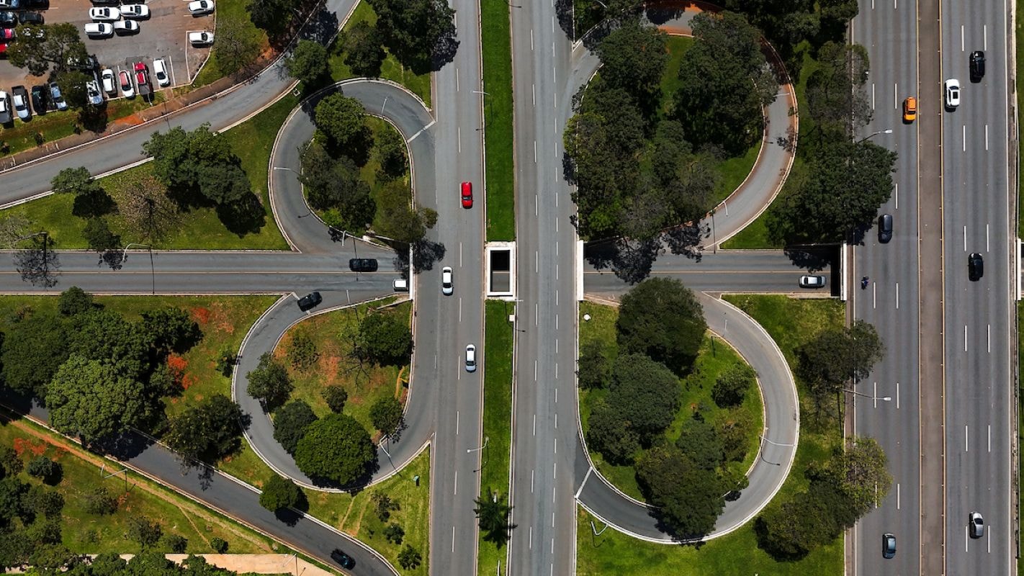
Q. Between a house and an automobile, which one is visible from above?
automobile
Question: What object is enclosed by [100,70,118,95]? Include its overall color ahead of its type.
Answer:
white car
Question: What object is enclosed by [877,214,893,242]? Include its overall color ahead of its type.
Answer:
black car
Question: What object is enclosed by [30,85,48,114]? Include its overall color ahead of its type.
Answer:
black car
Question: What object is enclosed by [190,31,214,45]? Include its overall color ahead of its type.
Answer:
white car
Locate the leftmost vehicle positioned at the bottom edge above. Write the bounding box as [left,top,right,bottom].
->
[329,547,357,570]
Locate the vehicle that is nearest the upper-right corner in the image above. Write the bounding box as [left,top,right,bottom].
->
[968,51,986,81]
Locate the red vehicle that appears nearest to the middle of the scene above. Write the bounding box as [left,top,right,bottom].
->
[460,182,473,208]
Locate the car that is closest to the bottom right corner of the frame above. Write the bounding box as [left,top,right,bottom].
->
[968,511,983,538]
